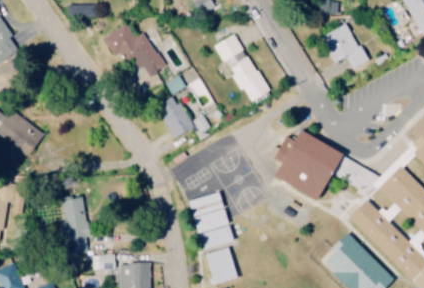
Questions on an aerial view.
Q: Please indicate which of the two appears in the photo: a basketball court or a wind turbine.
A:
basketball court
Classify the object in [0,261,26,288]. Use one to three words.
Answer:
house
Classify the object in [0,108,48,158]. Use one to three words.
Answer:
house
